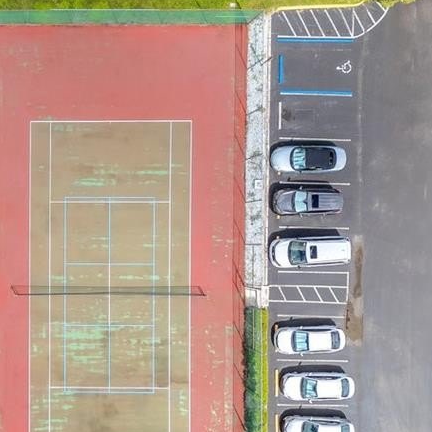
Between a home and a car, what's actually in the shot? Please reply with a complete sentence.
The one in the frame is a car.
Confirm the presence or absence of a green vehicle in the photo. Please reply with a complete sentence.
No, I can't see a single green vehicle in this photo.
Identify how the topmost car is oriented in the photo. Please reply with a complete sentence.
The topmost car runs from side to side in the image.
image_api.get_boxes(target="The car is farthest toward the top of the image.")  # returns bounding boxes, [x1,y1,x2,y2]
[269,141,346,176]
